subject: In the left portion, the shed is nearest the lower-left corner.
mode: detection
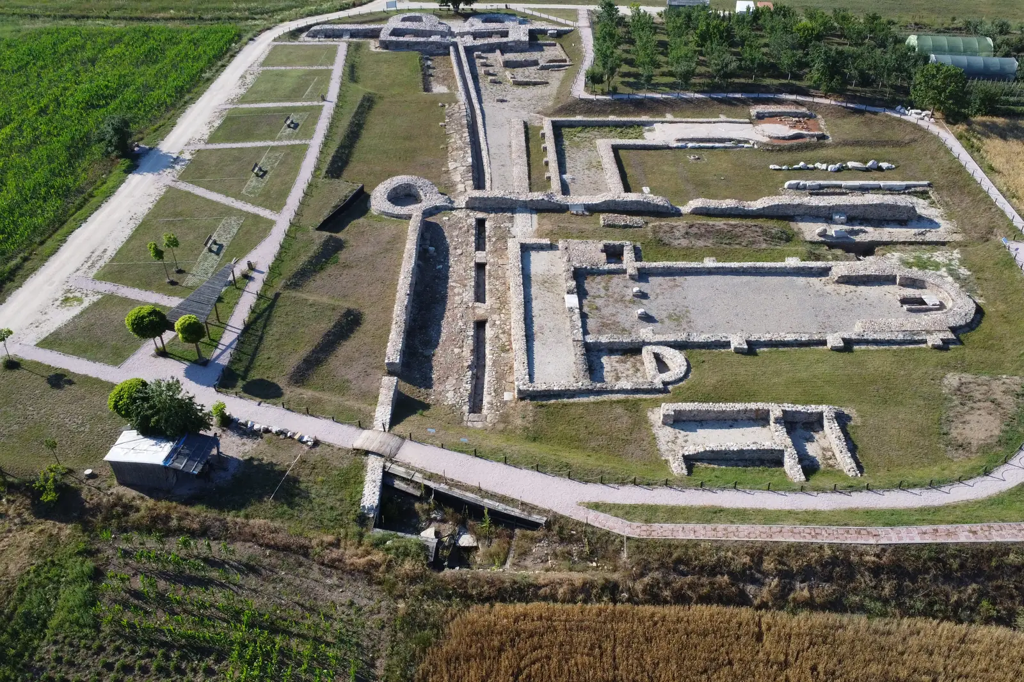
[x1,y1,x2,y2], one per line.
[103,431,227,497]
